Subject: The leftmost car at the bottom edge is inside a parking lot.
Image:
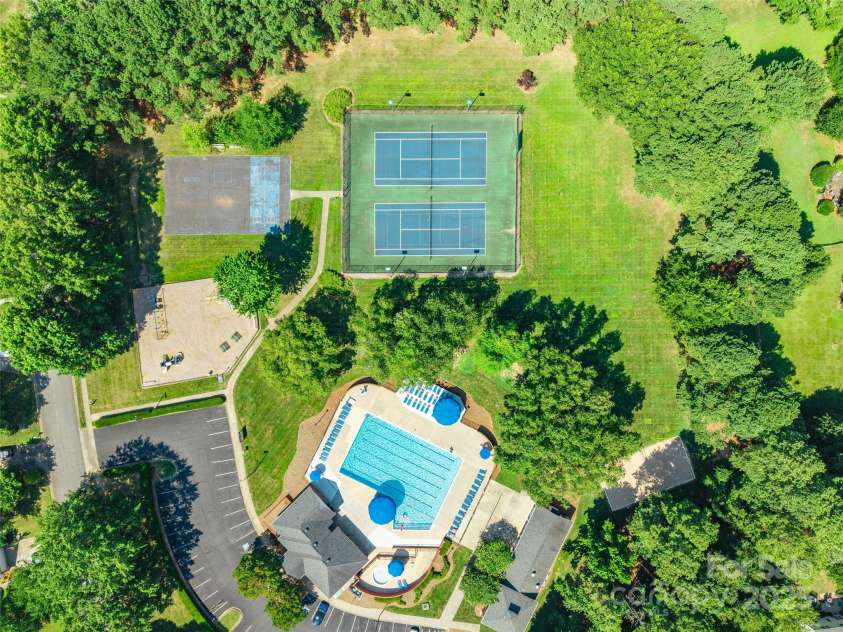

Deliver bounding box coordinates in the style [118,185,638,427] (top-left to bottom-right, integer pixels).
[312,602,328,626]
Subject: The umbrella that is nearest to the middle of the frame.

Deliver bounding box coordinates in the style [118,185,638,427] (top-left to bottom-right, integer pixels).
[432,396,461,425]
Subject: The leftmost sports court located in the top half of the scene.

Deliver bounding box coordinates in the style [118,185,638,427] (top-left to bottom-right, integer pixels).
[165,155,291,235]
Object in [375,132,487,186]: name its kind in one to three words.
tennis court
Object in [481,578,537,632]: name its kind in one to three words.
building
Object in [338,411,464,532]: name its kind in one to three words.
swimming pool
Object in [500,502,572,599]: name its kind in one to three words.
building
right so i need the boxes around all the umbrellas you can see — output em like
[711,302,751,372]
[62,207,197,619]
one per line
[310,469,321,480]
[368,495,396,523]
[388,559,404,575]
[479,447,491,458]
[432,396,461,425]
